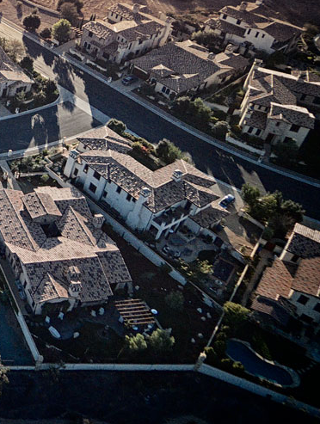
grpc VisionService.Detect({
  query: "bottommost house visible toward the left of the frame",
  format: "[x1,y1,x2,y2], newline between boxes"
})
[0,190,132,315]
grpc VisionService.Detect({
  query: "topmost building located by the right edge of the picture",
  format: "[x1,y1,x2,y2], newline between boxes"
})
[210,0,309,56]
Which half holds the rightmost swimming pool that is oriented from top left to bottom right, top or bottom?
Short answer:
bottom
